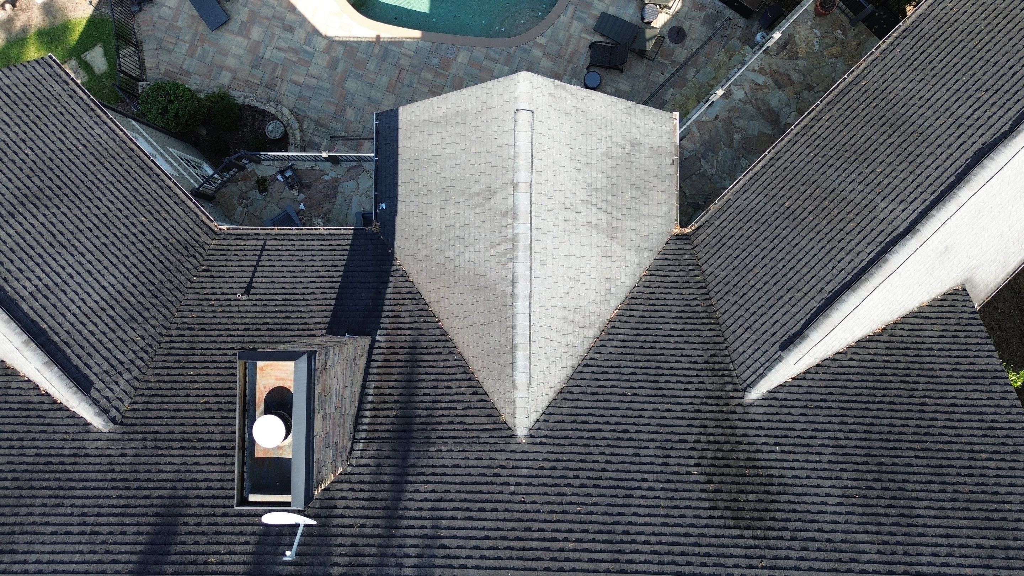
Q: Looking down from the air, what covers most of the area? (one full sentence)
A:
The scene is dominated by buildings.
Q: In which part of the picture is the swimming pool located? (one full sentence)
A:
You can find the swimming pool in the top area of the picture.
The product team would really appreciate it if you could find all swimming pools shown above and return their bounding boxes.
[348,0,558,37]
